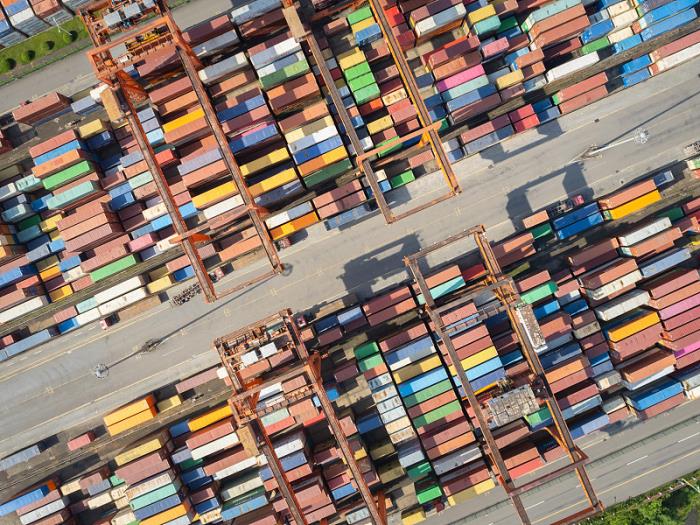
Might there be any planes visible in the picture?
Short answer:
No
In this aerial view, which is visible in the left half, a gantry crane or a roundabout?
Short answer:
gantry crane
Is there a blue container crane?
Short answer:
No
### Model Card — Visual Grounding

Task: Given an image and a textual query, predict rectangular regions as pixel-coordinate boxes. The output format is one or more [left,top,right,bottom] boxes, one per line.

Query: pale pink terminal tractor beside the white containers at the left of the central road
[96,315,120,332]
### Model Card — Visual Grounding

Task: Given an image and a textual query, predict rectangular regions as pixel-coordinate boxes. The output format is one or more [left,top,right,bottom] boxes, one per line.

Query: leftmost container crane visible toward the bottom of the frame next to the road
[210,308,399,525]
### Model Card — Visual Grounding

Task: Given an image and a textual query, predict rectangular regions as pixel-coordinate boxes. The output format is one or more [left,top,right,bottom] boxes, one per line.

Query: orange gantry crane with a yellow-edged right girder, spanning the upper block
[278,0,462,226]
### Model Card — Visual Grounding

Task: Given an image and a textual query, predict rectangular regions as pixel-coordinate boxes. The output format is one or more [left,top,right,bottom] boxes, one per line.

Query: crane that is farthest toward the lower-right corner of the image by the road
[403,227,604,525]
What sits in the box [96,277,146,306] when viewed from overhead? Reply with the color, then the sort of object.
white shipping container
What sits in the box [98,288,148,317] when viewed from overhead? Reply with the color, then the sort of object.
white shipping container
